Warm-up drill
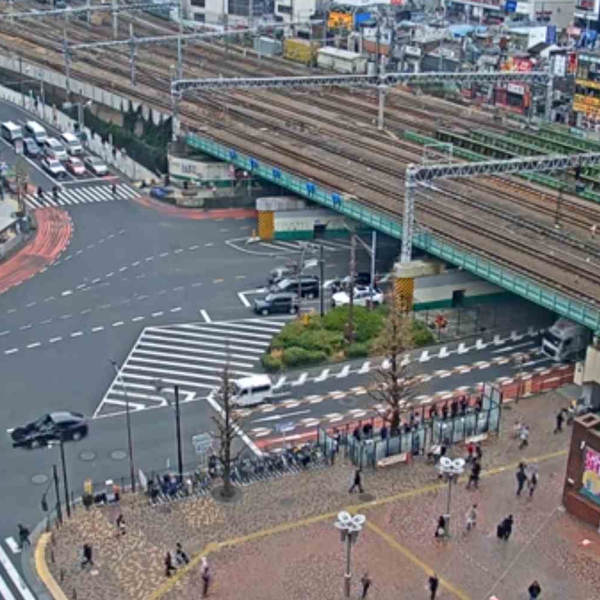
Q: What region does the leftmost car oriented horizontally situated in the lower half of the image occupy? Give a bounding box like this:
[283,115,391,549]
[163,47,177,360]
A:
[18,411,91,445]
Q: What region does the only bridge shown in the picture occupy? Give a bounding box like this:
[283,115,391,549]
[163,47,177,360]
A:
[185,124,600,345]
